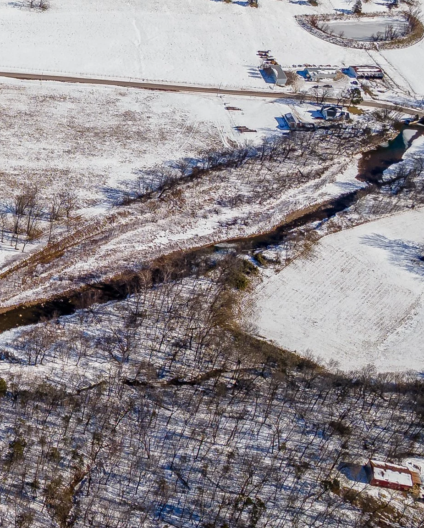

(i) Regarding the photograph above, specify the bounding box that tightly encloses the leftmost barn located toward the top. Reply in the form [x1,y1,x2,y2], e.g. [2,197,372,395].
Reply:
[268,63,291,85]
